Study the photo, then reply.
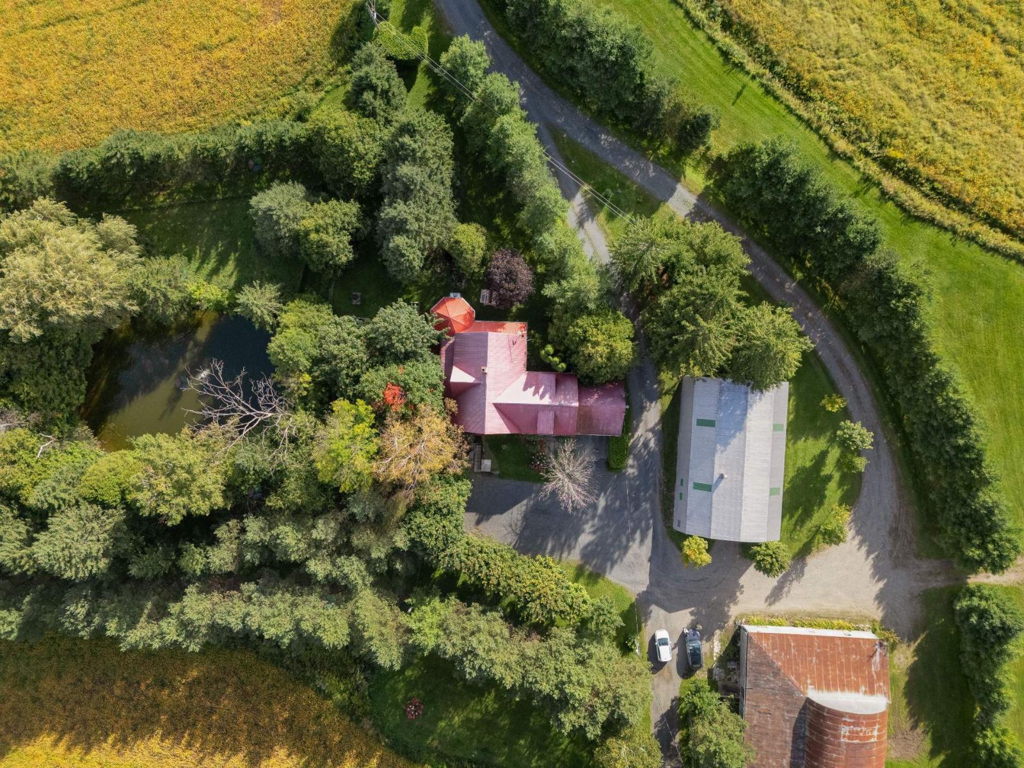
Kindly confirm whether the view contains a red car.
No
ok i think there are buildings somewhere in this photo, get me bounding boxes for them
[437,319,626,442]
[736,625,893,768]
[672,379,791,542]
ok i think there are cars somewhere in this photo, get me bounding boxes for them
[654,628,671,662]
[684,630,703,668]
